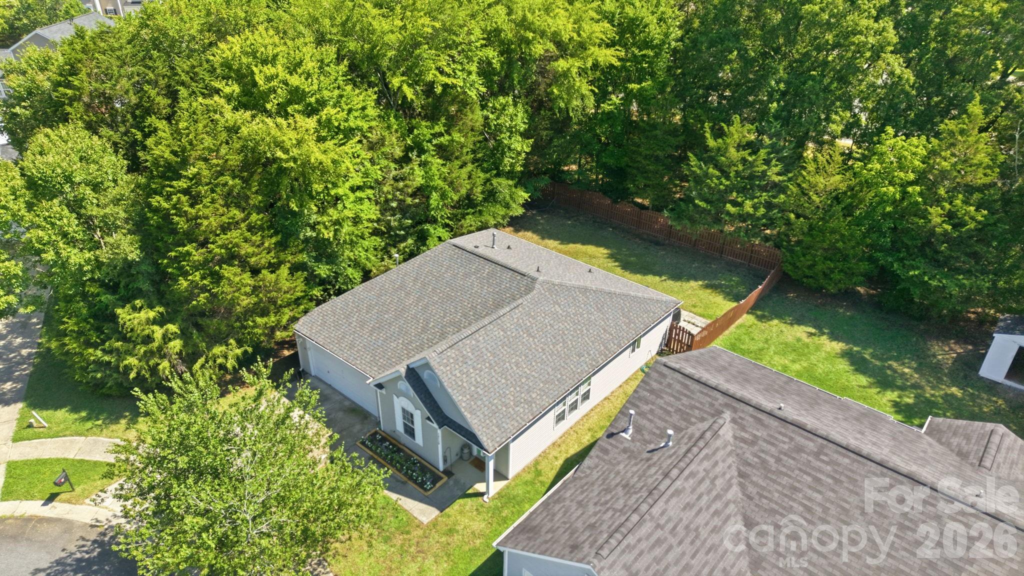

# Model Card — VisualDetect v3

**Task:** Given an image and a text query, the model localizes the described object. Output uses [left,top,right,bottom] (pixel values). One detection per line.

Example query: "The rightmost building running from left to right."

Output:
[490,347,1024,576]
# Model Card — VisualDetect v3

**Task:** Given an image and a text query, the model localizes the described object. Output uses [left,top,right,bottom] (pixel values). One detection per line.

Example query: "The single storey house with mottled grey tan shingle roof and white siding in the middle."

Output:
[291,228,685,503]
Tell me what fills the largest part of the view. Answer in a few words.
trees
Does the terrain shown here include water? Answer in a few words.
No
